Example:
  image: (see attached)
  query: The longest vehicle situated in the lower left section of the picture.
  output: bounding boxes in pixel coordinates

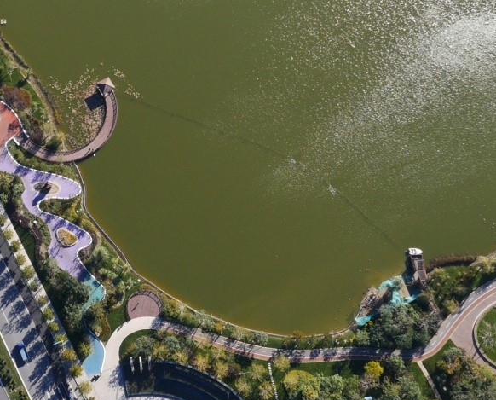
[16,342,28,361]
